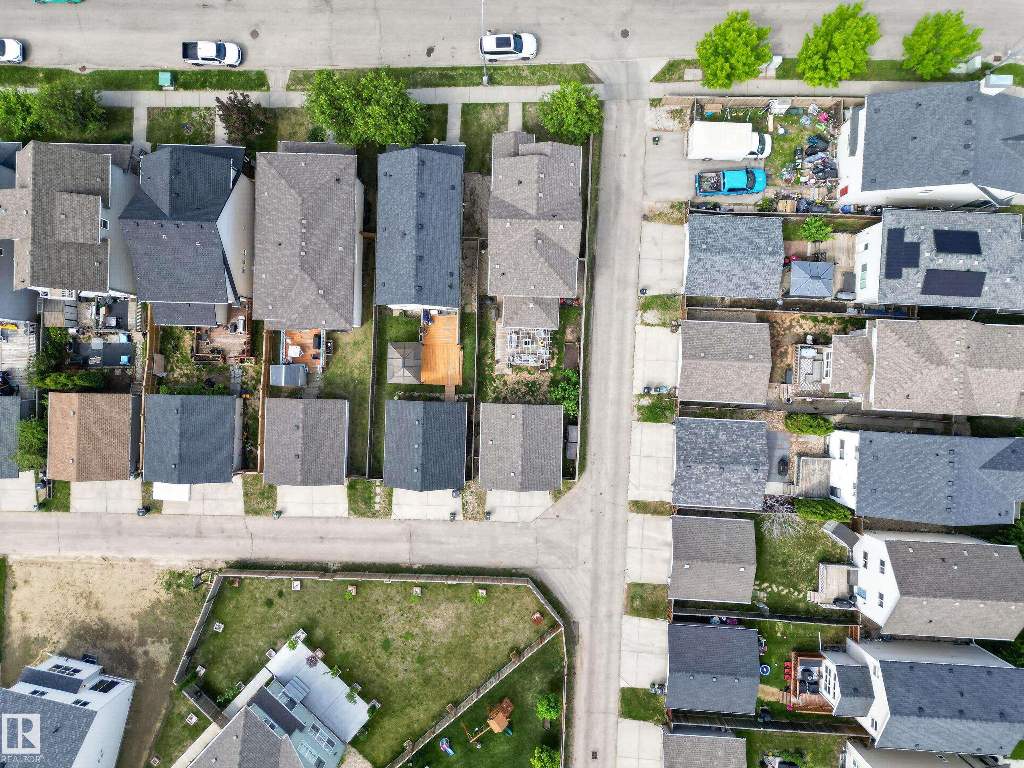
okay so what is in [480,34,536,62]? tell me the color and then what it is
white car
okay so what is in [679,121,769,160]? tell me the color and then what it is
white truck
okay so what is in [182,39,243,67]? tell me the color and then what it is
white truck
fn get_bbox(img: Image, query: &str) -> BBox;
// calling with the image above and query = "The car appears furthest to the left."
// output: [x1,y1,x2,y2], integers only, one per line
[0,37,25,64]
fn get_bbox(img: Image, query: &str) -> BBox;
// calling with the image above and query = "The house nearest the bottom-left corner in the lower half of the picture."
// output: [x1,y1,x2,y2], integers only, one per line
[0,654,136,768]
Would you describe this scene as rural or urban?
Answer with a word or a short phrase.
urban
